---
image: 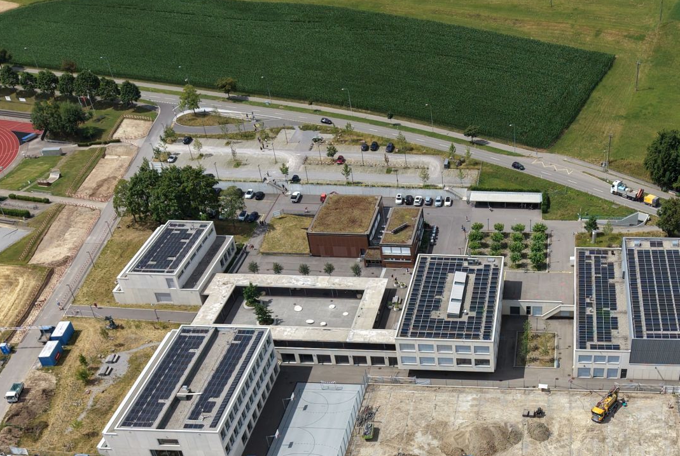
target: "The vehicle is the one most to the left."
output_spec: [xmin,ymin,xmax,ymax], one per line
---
[1,377,23,396]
